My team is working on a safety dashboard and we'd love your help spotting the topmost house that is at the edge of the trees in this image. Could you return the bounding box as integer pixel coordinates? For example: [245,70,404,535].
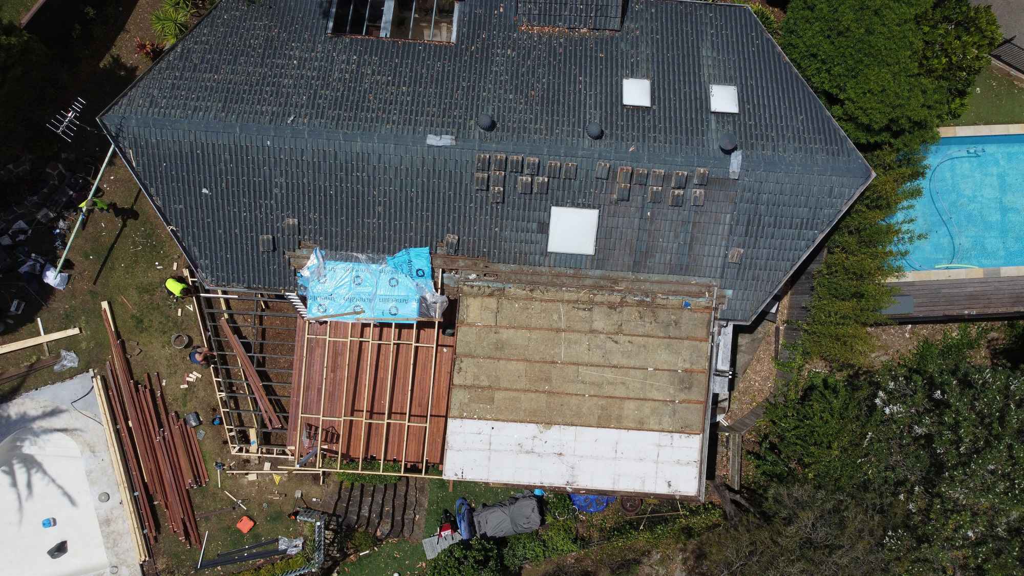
[92,0,878,508]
